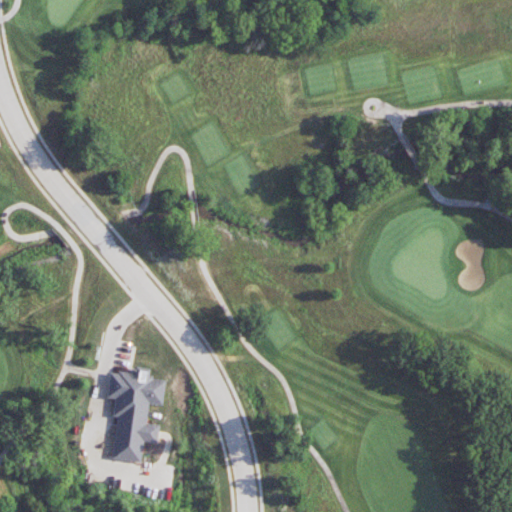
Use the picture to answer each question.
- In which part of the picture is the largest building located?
bottom left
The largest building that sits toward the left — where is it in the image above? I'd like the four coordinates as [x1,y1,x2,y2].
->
[108,367,166,462]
